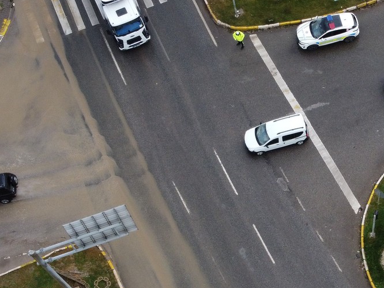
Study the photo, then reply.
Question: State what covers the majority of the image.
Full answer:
For the most part, this view shows paved ground.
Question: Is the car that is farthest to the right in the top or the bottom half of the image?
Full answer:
It is in the top half that the car that is farthest to the right appears.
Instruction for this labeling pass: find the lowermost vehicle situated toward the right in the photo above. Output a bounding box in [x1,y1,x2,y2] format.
[244,116,310,158]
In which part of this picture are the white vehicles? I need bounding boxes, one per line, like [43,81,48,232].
[295,10,360,51]
[244,116,310,158]
[95,0,152,53]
